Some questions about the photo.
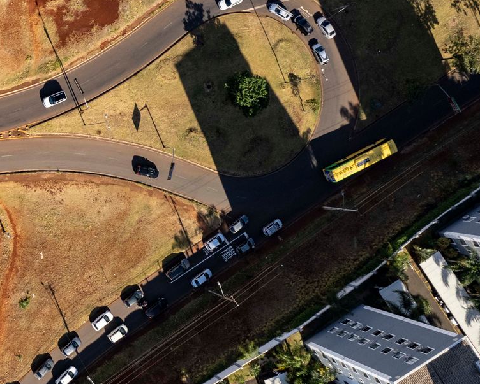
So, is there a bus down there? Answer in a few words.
Yes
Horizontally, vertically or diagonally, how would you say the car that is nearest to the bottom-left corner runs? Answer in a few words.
diagonally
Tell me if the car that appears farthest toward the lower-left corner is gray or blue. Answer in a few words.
gray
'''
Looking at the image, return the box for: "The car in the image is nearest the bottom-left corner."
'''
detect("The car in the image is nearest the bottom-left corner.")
[33,356,56,383]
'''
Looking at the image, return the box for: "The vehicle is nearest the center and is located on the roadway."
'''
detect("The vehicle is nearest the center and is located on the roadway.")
[226,212,249,236]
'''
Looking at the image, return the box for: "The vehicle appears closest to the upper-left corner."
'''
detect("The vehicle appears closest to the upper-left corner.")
[41,89,69,109]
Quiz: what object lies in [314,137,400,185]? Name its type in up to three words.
bus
